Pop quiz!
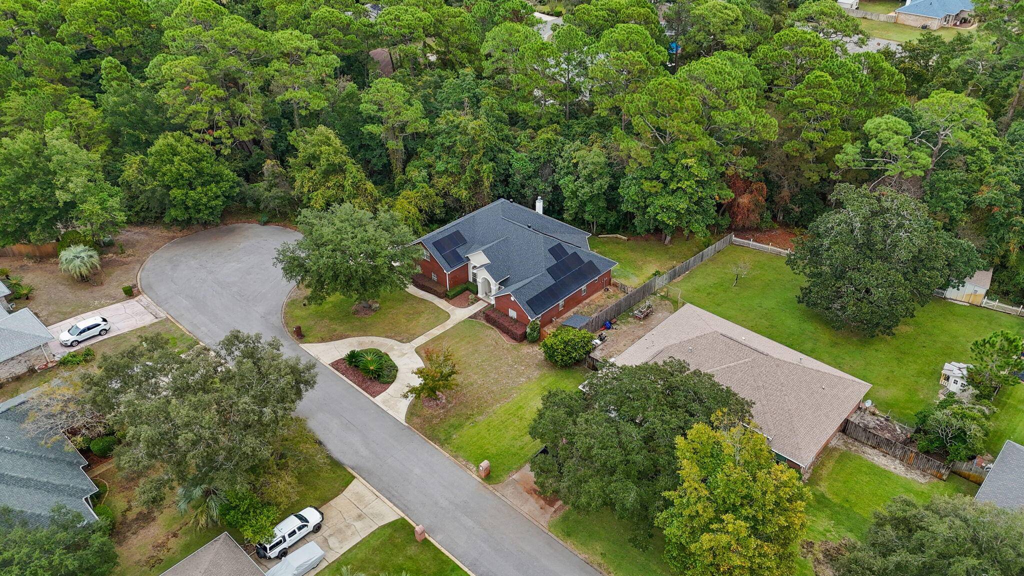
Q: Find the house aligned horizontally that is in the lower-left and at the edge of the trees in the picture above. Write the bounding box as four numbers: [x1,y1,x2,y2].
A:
[160,531,265,576]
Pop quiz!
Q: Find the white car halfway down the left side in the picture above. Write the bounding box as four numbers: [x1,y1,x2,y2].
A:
[58,316,111,346]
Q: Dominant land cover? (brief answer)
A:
trees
